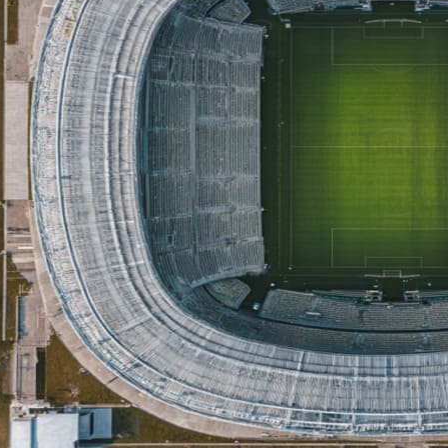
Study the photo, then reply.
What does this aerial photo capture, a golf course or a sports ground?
sports ground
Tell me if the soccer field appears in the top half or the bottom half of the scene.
top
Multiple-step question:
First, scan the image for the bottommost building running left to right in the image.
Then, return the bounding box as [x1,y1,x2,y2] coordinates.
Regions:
[12,403,114,448]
